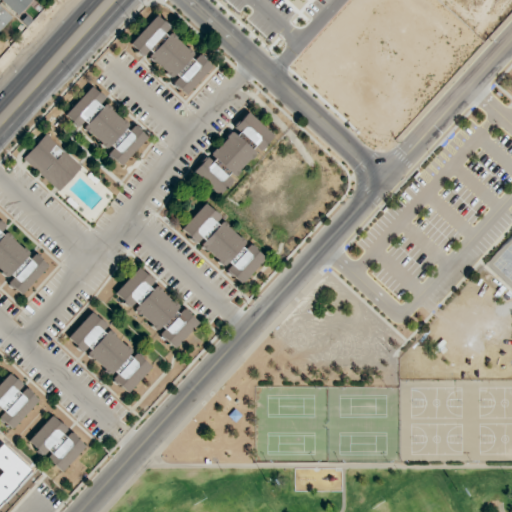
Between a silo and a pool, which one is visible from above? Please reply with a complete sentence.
I can see a pool in this picture.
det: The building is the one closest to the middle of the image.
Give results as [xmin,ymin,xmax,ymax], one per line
[182,202,266,284]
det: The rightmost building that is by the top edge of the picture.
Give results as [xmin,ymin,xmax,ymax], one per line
[132,14,214,96]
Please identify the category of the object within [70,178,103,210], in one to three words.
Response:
swimming pool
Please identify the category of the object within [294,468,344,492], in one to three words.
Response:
playground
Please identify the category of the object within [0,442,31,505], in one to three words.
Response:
building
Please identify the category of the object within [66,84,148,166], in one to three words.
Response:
building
